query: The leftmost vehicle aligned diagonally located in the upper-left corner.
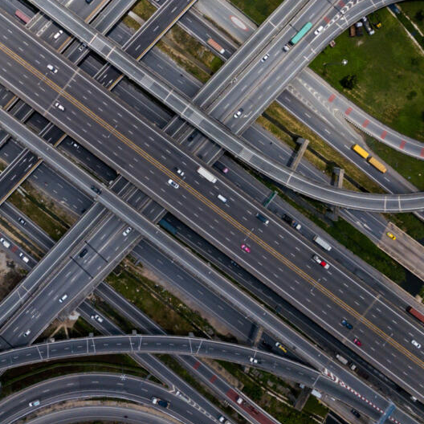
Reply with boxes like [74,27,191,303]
[11,7,33,24]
